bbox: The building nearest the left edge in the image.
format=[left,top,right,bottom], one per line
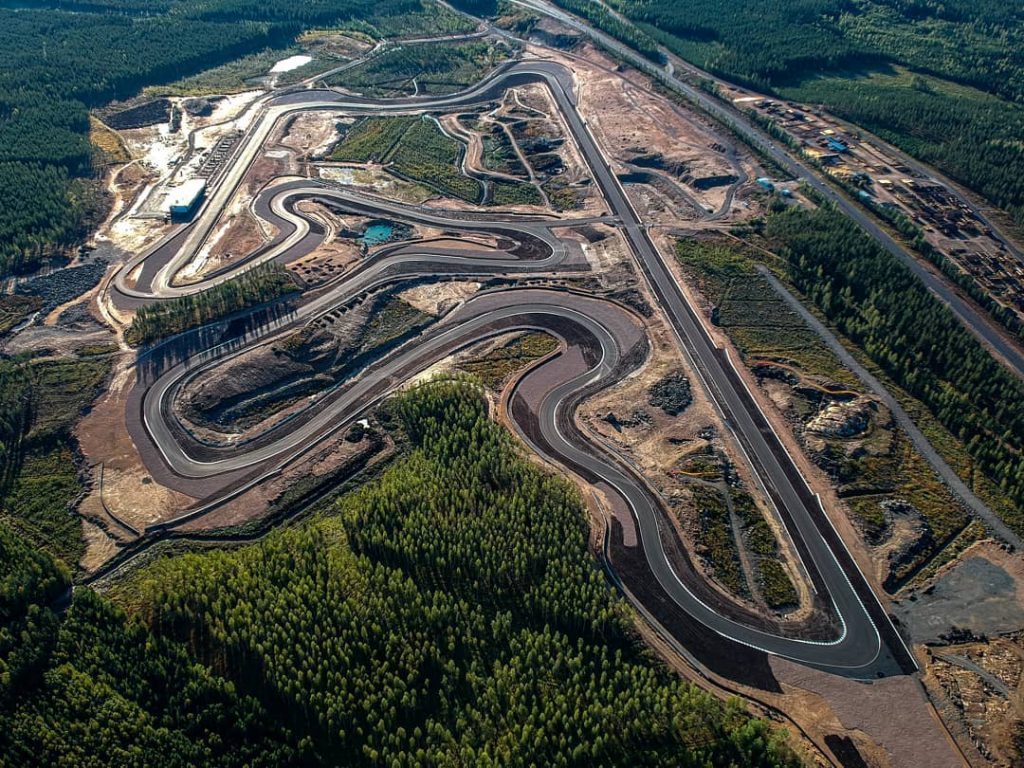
[170,179,208,214]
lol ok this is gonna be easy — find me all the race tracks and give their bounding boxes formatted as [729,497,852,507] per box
[144,70,880,667]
